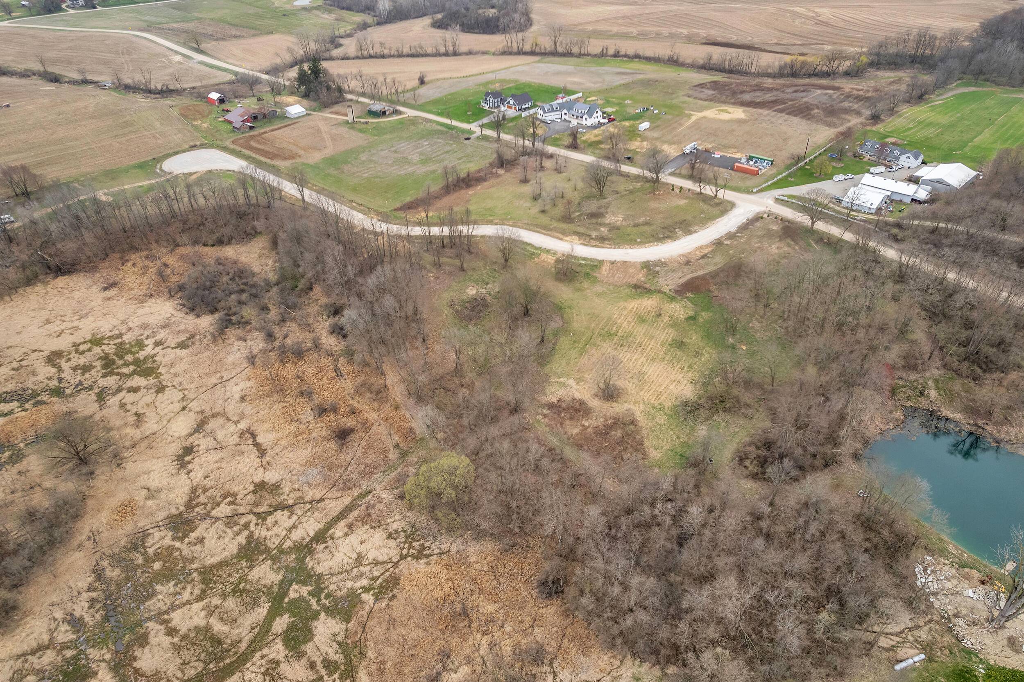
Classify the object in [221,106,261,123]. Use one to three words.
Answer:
barn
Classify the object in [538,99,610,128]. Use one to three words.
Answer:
house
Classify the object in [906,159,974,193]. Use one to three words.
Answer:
shed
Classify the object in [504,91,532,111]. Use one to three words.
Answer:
building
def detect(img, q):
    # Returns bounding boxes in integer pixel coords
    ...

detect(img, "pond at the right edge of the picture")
[859,407,1024,582]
